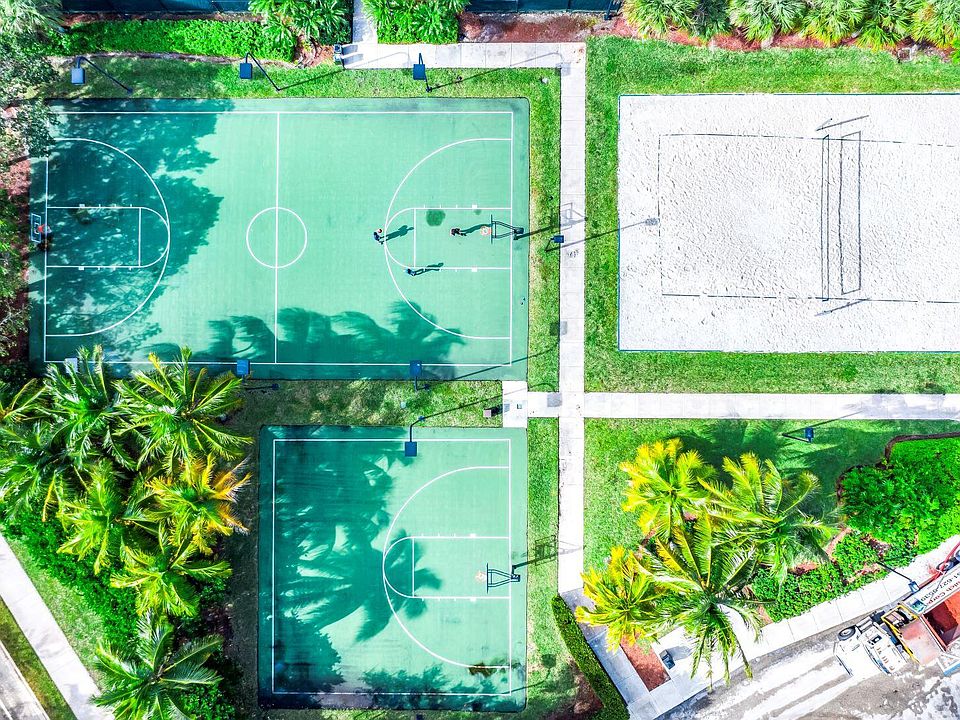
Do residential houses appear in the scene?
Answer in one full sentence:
No, there's no residential house here.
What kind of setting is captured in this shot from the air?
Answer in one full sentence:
The picture captures a sports ground.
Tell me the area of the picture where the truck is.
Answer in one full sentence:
Look in the bottom right portion of the view to spot the truck.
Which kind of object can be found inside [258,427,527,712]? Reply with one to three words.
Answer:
basketball court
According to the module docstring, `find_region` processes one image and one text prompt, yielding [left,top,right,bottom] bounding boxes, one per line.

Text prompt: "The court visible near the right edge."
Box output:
[618,91,960,353]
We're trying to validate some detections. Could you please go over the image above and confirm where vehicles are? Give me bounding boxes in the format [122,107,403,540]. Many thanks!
[831,556,960,688]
